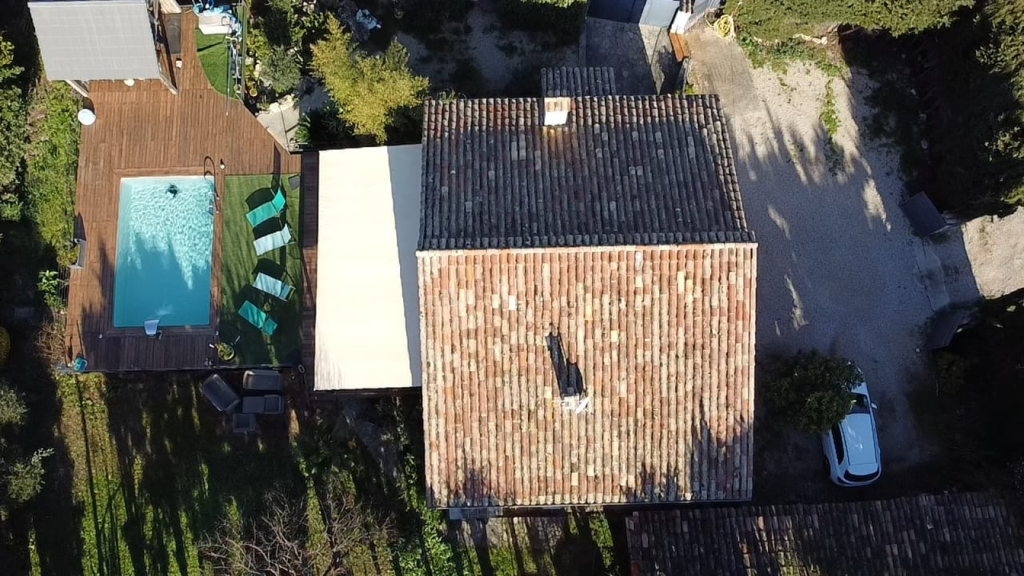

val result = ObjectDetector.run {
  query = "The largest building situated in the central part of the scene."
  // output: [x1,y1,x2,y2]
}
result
[416,63,760,519]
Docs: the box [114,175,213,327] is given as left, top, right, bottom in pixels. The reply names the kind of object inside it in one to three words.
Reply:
swimming pool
